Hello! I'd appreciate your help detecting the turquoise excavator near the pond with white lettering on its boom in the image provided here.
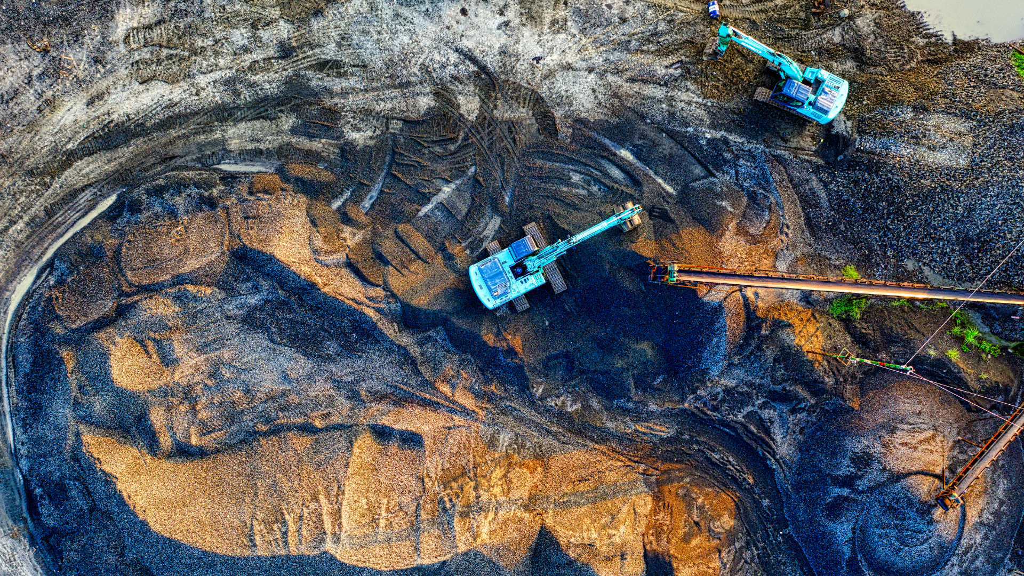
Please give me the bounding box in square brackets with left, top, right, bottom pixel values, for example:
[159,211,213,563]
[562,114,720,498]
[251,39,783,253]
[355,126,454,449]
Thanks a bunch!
[699,11,853,137]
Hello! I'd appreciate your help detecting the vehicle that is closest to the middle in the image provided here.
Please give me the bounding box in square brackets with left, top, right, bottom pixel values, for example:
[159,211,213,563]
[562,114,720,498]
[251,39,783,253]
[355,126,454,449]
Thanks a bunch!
[472,200,647,314]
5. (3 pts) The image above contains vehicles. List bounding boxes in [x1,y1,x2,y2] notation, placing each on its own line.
[472,200,647,314]
[699,11,853,137]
